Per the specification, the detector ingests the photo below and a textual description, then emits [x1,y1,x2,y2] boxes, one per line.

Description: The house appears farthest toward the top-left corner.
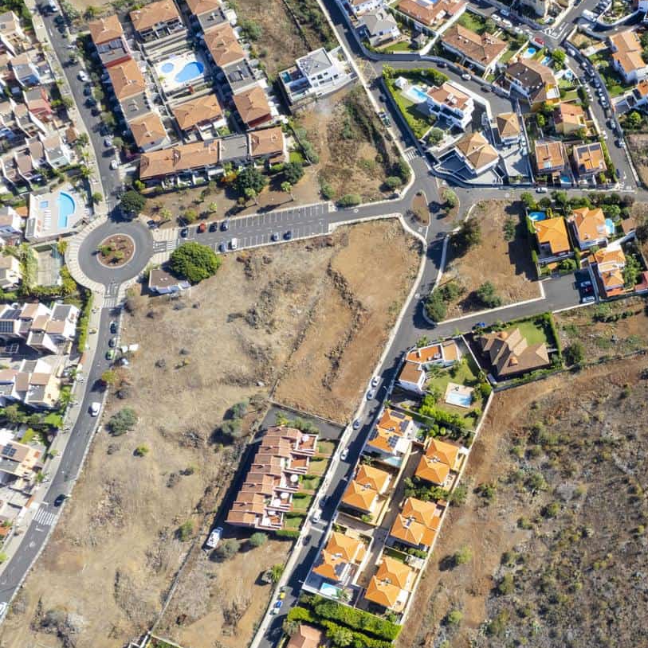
[0,10,37,50]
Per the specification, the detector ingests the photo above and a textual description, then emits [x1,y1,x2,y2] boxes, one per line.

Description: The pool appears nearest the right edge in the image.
[605,216,619,237]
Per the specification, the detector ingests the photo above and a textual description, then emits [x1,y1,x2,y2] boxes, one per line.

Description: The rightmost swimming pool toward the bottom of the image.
[444,383,476,408]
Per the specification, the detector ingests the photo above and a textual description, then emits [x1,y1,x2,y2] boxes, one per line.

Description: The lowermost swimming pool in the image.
[317,580,348,607]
